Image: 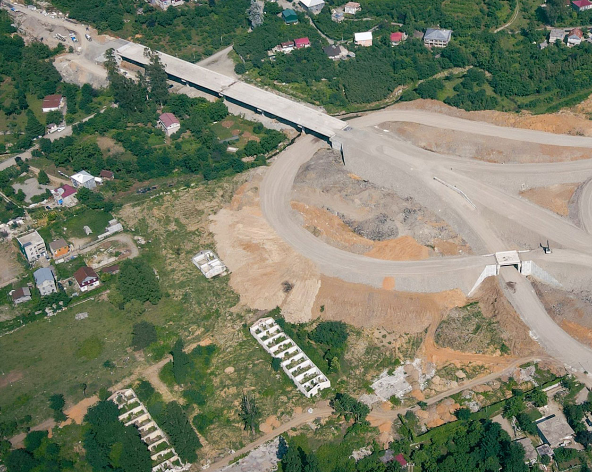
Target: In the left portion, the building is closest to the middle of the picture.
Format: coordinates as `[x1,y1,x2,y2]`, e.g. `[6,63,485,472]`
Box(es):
[195,254,226,283]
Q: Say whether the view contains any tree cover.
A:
Yes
